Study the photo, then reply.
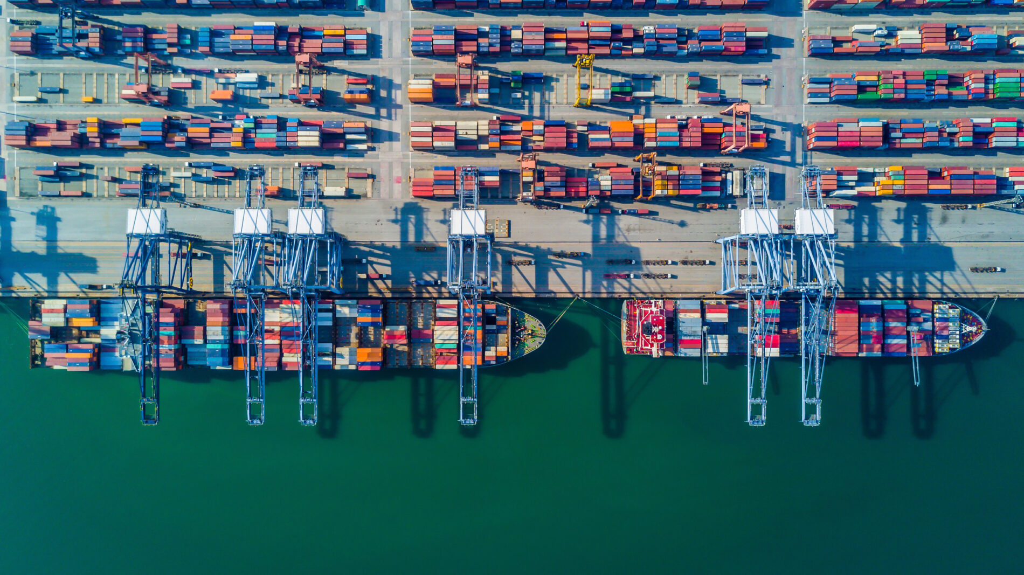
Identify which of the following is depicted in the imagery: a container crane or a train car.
container crane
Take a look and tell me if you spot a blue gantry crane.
Yes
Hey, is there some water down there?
Yes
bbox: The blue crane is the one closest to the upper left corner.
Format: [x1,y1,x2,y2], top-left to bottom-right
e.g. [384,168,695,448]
[51,0,97,58]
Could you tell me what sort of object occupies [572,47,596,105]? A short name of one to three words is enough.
container crane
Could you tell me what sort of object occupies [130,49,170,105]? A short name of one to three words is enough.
container crane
